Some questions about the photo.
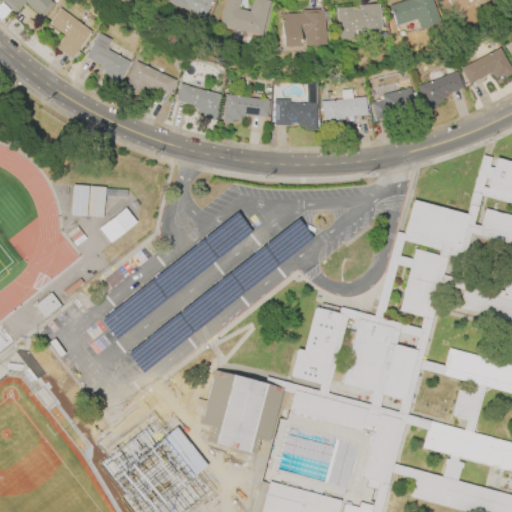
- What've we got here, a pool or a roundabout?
pool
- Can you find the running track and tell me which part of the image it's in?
left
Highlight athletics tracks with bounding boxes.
[0,145,80,320]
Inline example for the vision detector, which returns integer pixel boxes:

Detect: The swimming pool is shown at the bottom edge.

[264,412,378,506]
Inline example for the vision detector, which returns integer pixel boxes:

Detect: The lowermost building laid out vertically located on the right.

[364,412,408,512]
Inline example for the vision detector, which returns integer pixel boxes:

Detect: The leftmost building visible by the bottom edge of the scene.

[102,424,226,512]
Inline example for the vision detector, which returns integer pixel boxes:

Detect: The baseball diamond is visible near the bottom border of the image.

[0,376,116,512]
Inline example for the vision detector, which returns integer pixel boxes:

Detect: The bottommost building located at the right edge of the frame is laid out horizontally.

[410,468,512,512]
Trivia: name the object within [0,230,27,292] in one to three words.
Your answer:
sports field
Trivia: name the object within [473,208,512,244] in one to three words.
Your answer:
building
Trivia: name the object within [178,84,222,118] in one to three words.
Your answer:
house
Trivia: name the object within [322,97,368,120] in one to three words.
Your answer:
house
